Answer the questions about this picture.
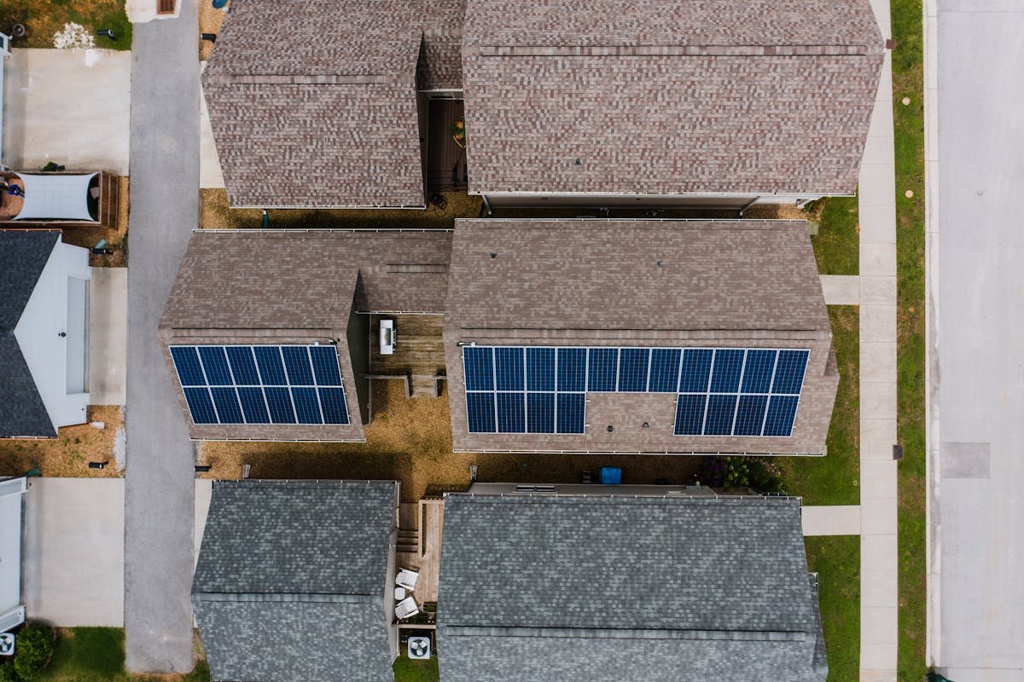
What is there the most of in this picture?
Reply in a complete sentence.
The scene is dominated by buildings.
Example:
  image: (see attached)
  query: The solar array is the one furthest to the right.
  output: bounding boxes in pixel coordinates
[461,347,810,437]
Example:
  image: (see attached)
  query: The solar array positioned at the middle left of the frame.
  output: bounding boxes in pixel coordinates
[167,346,349,424]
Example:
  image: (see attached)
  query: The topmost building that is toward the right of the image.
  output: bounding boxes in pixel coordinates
[462,0,886,218]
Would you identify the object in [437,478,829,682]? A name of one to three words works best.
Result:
house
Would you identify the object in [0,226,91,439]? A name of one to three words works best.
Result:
building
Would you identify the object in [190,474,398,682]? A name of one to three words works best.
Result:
building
